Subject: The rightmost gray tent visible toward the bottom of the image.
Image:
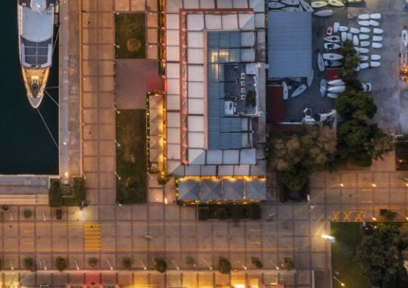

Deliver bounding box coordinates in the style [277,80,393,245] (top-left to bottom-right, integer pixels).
[242,177,266,205]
